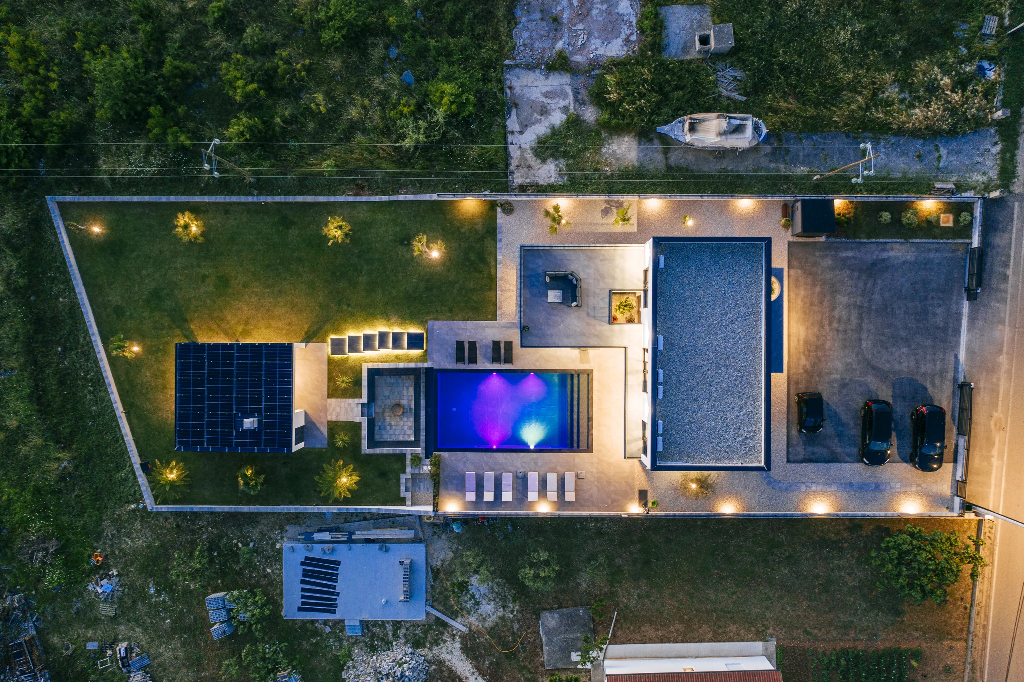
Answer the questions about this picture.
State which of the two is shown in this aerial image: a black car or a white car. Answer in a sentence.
It is a black car that can be seen here.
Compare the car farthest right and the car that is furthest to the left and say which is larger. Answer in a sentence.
It is the car farthest right that is larger, not the car that is furthest to the left.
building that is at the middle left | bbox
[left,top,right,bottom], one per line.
[173,343,305,452]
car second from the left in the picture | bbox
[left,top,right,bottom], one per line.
[857,399,894,466]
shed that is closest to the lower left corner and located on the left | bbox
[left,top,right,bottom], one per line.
[7,640,46,682]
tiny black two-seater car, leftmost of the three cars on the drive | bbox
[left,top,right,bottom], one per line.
[795,393,828,433]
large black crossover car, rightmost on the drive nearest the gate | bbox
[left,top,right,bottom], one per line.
[909,405,949,473]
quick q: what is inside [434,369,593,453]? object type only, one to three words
swimming pool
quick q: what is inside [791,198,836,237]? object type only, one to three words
shed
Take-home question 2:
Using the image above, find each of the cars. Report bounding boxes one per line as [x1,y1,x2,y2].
[795,393,828,433]
[857,399,894,466]
[909,405,949,473]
